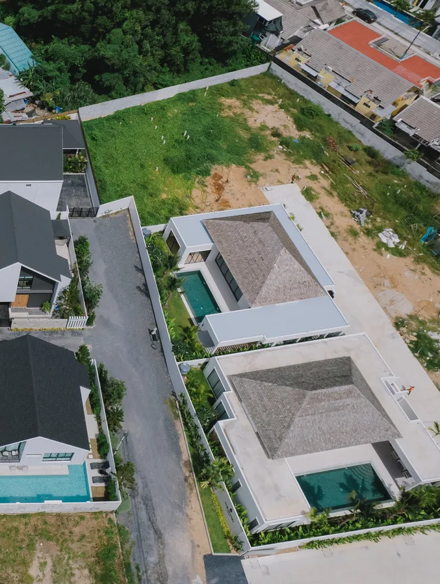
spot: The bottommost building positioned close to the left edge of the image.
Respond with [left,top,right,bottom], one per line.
[0,333,90,465]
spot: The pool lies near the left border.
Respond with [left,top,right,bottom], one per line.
[0,457,93,502]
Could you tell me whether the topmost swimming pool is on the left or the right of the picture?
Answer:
right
